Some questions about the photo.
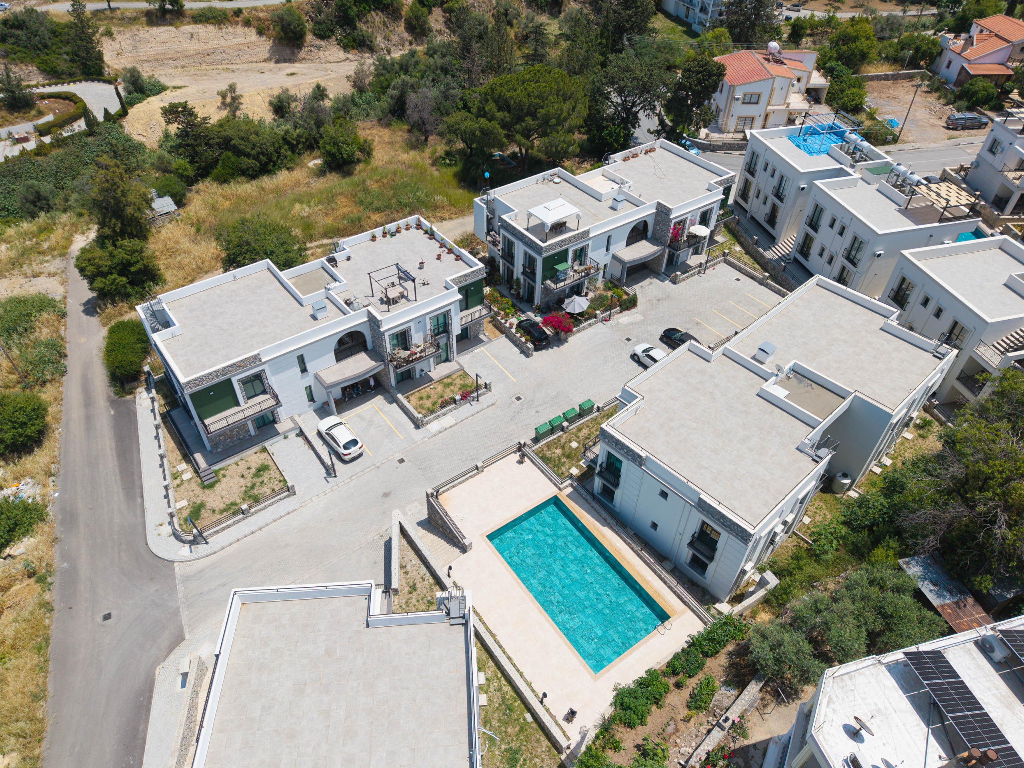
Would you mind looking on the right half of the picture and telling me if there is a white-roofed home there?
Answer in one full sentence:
Yes, a white-roofed home is visible on the right half of the picture.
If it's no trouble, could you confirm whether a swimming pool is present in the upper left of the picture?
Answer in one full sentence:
No, in the upper left of the picture there is no swimming pool.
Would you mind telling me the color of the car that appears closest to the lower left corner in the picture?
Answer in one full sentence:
The car that appears closest to the lower left corner looks white in the image.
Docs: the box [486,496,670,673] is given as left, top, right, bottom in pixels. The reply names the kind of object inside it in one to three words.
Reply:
swimming pool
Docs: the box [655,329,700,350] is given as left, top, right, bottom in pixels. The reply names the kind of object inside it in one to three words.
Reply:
car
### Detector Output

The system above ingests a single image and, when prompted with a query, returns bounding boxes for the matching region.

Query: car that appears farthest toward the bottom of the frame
[323,417,366,463]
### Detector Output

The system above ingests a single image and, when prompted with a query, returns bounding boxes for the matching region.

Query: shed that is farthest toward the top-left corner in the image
[150,192,181,236]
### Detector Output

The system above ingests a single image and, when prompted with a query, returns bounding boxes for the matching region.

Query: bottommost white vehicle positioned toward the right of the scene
[626,342,668,369]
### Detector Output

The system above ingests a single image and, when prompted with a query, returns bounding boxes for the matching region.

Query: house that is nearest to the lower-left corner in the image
[188,573,489,768]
